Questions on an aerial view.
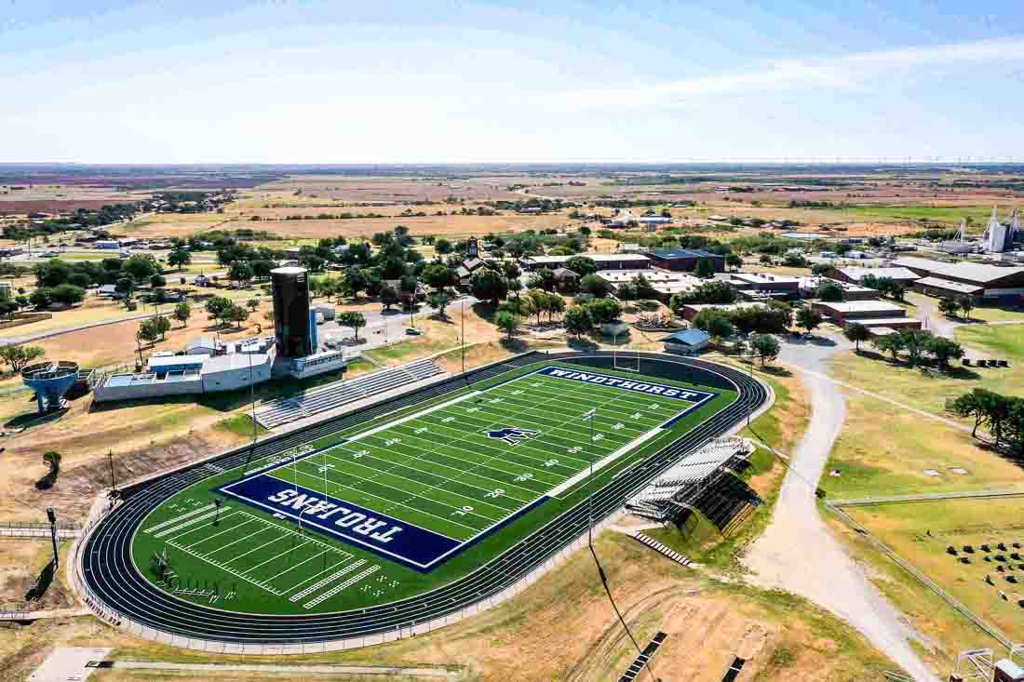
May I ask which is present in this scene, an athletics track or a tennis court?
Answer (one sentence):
There is an athletics track in the scene.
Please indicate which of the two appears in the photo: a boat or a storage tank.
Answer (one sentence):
The image shows a storage tank.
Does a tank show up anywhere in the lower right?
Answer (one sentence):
No, there is no tank in the lower right.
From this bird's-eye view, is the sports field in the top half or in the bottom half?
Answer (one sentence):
It is in the bottom half that the sports field appears.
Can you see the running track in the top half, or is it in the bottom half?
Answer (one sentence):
The bottom half of the photo is where the running track is.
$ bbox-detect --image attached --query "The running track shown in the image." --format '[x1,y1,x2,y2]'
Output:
[74,351,767,648]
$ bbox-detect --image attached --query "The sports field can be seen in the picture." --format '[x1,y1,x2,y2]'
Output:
[264,374,696,542]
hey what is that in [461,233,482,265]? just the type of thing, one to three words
building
